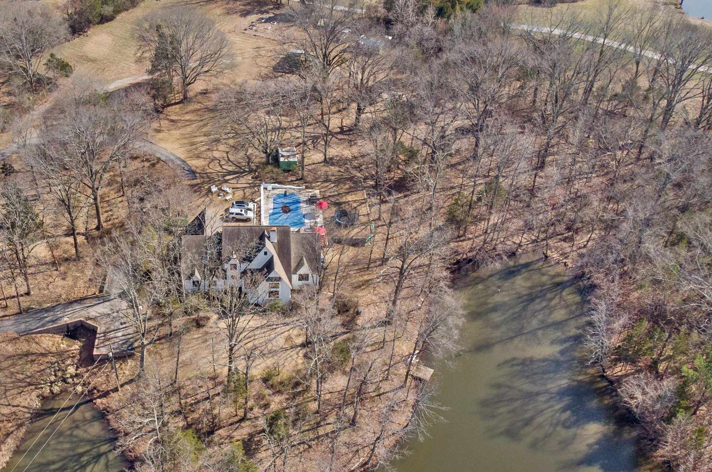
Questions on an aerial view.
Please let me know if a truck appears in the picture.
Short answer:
No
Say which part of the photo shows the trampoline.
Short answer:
center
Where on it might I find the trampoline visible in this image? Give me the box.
[336,205,358,229]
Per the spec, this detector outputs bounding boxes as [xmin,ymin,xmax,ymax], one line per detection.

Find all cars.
[230,208,253,221]
[230,198,255,211]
